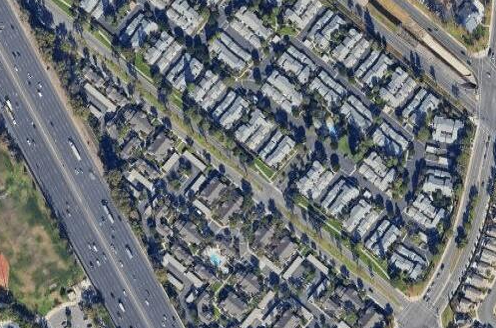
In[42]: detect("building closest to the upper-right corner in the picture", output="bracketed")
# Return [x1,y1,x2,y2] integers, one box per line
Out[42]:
[463,0,485,31]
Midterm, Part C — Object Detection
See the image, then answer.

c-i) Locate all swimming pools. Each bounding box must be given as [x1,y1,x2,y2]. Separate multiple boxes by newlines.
[206,246,225,266]
[326,114,339,137]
